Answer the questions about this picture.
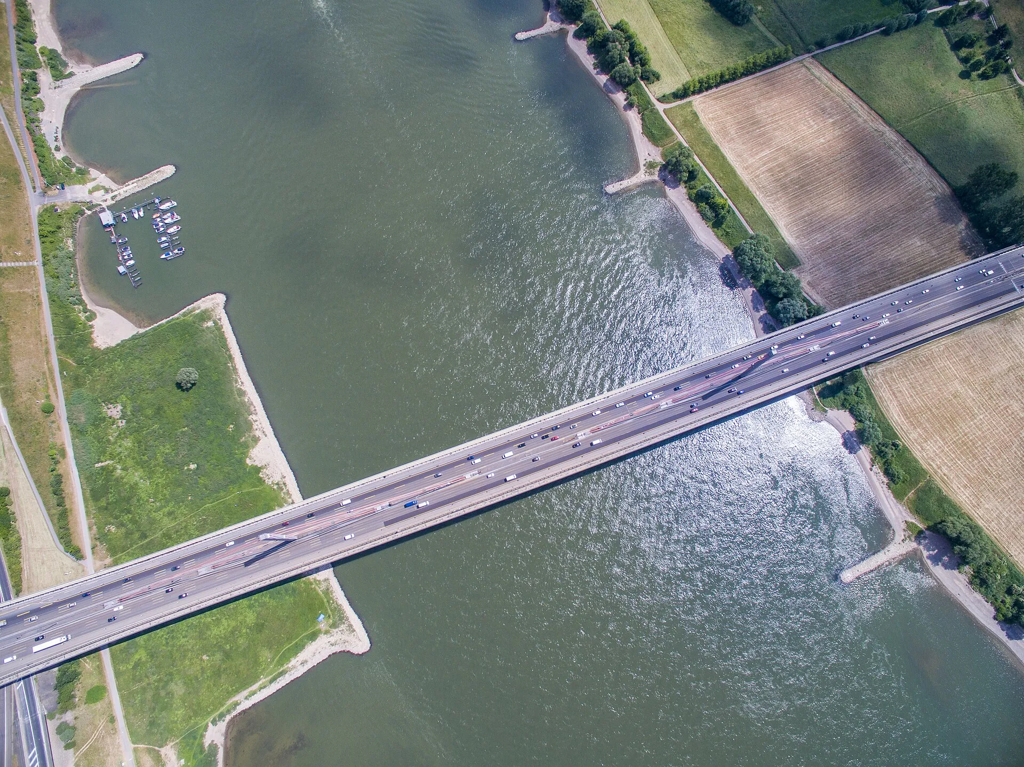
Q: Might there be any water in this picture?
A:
Yes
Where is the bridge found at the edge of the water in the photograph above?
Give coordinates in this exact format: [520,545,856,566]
[0,243,1024,689]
